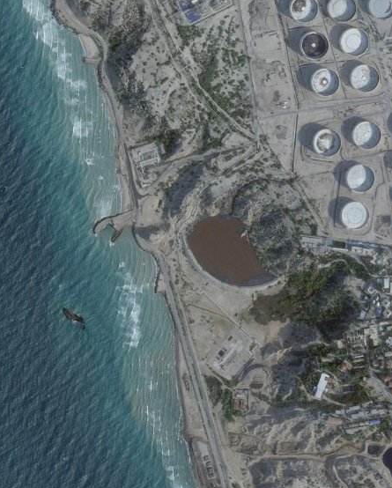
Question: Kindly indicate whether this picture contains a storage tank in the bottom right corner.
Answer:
No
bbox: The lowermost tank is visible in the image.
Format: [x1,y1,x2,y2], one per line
[340,201,368,233]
